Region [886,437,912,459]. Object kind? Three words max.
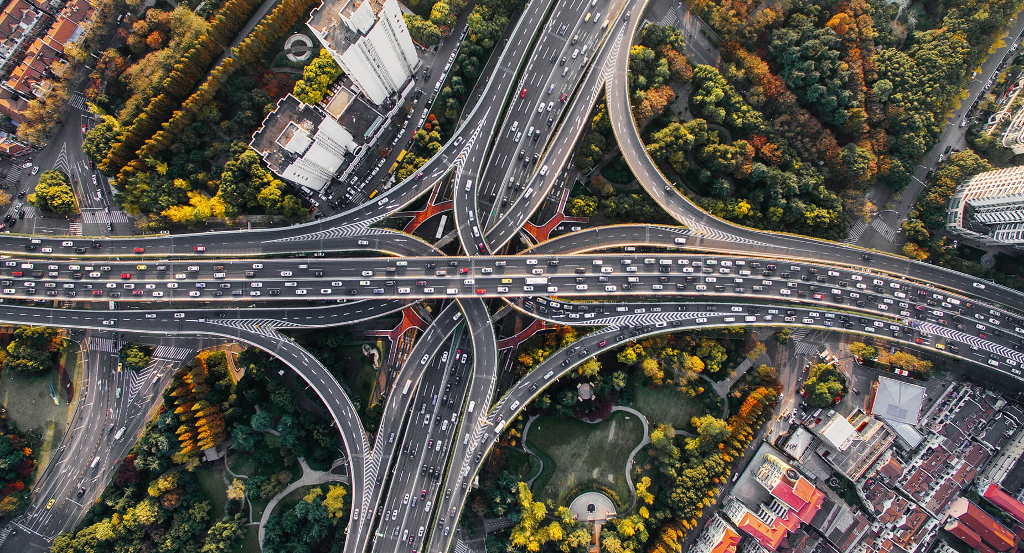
house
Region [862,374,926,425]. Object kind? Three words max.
building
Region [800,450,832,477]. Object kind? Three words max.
shed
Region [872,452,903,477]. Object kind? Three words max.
house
